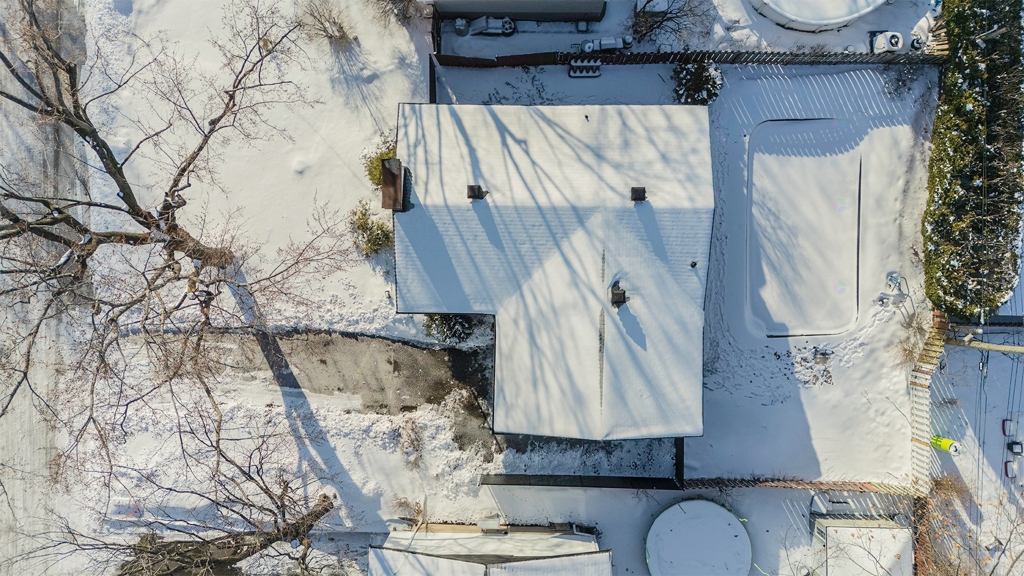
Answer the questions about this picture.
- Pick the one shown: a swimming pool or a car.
swimming pool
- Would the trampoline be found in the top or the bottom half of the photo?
bottom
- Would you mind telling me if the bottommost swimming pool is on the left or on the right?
right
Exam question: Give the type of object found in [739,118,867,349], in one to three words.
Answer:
swimming pool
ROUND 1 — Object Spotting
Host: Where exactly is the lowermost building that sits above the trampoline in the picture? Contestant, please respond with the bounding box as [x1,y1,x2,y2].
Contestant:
[383,102,715,442]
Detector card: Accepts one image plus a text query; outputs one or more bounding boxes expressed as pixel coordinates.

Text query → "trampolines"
[643,499,771,576]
